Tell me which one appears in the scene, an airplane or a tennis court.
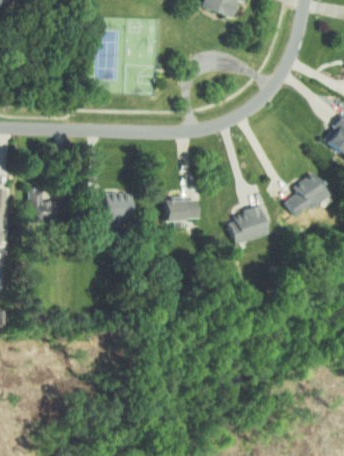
tennis court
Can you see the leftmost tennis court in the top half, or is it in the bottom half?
top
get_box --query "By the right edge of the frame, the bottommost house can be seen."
[284,174,331,218]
